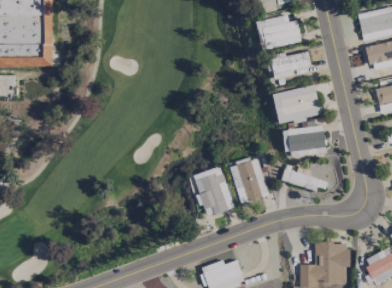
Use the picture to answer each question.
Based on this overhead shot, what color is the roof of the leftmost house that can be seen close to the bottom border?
white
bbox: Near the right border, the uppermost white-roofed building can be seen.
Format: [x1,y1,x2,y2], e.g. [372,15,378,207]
[358,6,392,41]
